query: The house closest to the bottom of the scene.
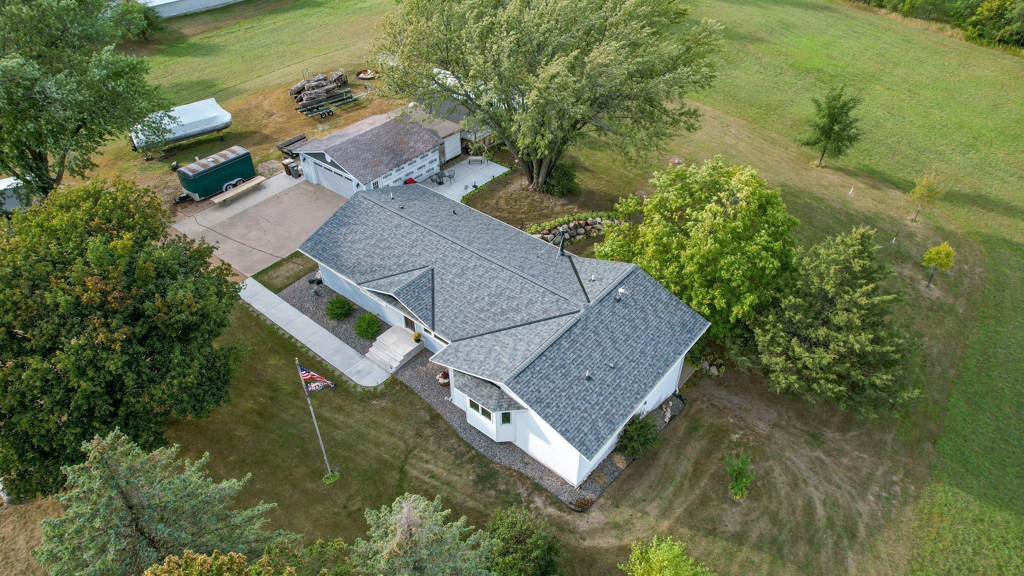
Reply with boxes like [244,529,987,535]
[298,182,713,488]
